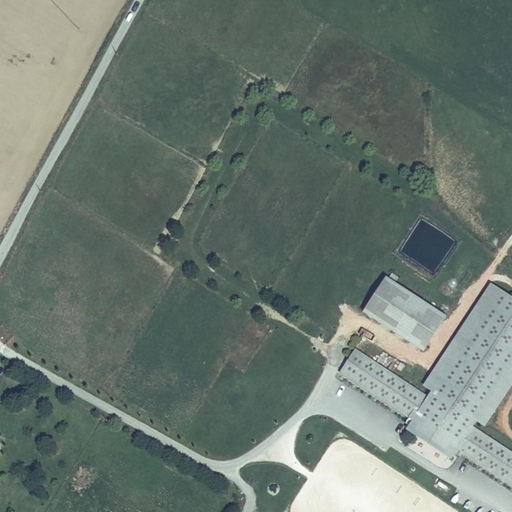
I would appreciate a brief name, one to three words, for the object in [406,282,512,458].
building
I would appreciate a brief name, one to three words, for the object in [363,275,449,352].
shed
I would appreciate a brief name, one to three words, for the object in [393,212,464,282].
pond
